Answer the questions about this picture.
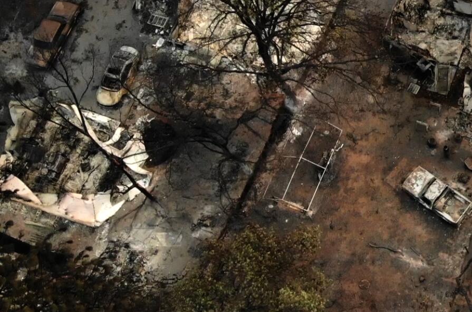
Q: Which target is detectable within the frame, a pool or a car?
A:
car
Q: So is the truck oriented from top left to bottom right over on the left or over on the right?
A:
right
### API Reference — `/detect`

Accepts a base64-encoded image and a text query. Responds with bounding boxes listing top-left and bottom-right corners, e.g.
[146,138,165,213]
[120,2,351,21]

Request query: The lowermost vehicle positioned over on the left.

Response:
[104,50,140,106]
